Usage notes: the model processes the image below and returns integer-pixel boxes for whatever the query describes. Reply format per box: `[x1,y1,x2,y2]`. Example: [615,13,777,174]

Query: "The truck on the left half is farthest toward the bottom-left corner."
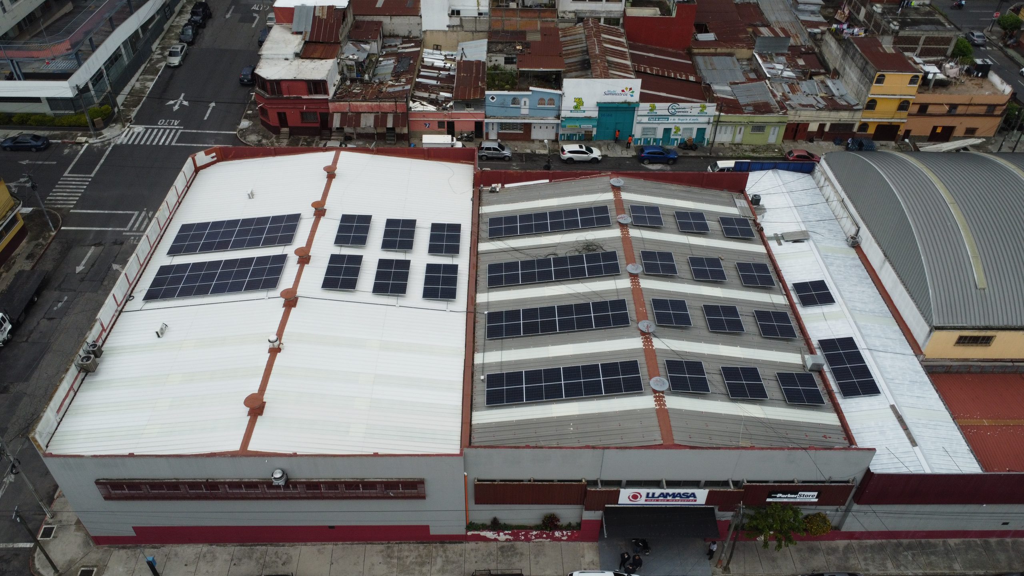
[0,274,44,351]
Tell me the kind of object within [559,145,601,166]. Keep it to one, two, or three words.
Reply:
car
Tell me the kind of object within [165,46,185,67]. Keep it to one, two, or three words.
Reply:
car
